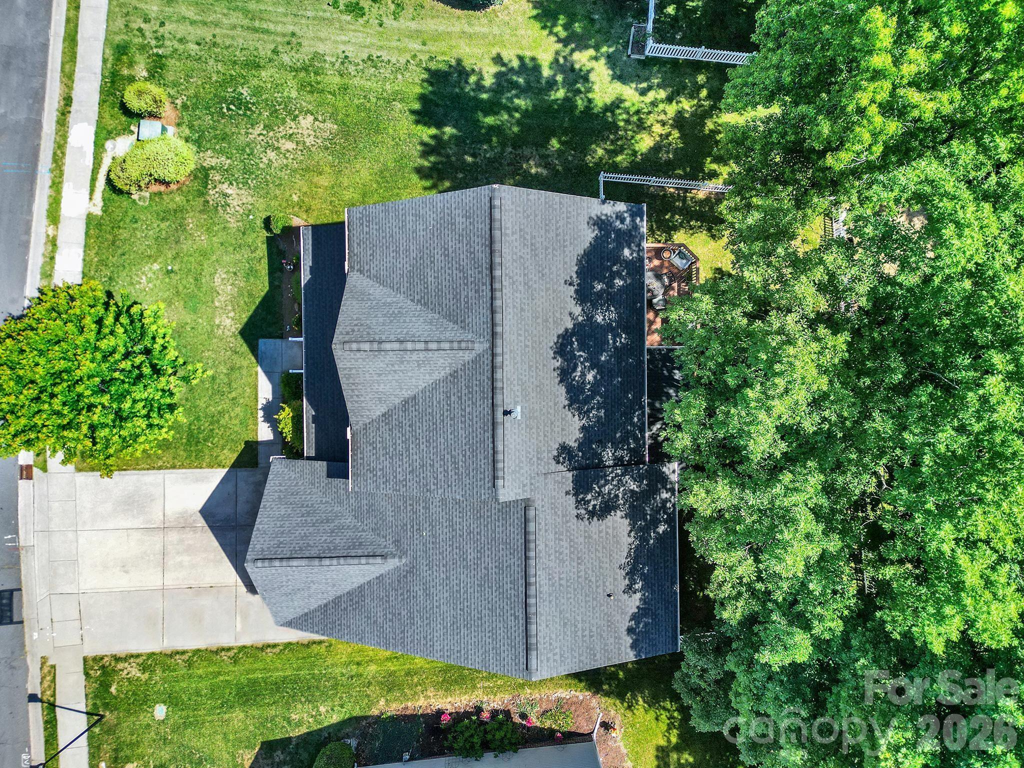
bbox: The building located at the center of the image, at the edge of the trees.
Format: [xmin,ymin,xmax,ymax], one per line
[245,186,706,680]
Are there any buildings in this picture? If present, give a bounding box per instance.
[245,186,706,680]
[358,714,604,768]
